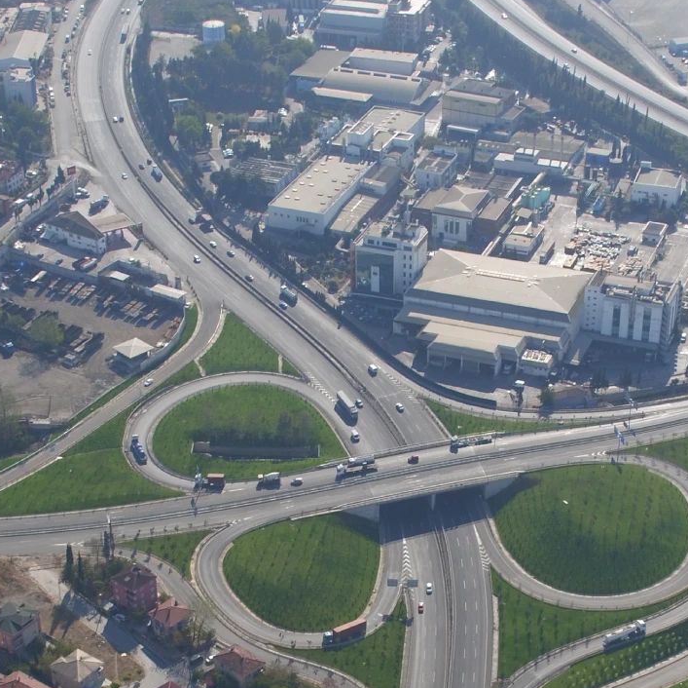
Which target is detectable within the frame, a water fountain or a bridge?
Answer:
bridge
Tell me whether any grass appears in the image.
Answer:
Yes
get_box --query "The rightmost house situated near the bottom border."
[212,646,269,688]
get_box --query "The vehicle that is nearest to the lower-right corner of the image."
[602,622,648,643]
